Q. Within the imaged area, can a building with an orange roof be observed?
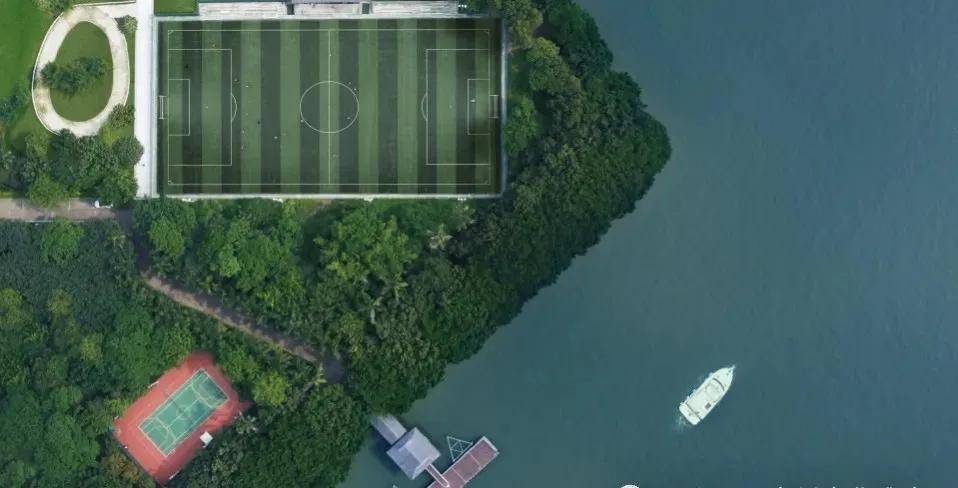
No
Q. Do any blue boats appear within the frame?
No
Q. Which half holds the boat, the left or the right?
right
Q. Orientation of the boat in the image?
on a diagonal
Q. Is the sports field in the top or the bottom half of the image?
top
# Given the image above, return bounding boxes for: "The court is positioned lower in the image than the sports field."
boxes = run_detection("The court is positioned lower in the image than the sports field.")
[113,351,250,486]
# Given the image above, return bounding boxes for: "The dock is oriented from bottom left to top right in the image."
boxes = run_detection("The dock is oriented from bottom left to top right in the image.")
[428,436,500,488]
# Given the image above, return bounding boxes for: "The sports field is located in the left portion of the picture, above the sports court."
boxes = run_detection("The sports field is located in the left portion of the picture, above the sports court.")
[157,20,501,194]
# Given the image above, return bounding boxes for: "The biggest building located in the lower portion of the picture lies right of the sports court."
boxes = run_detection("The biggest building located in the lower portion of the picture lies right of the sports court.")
[386,429,440,482]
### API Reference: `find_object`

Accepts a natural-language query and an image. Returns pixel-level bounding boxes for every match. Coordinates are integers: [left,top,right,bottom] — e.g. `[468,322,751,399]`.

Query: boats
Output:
[680,367,736,422]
